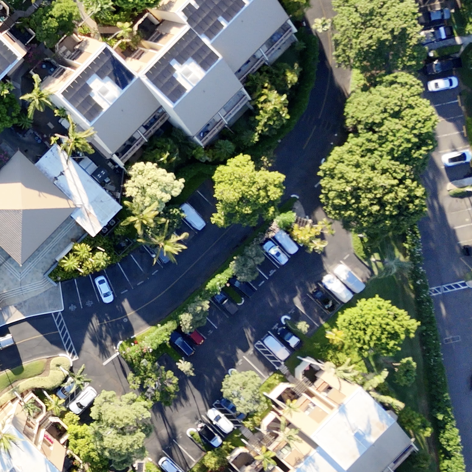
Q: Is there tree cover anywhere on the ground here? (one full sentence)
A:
Yes, there is tree cover in the image.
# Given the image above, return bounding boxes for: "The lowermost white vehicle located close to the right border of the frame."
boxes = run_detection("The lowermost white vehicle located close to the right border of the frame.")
[439,151,472,165]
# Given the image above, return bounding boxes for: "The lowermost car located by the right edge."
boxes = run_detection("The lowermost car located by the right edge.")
[459,245,472,259]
